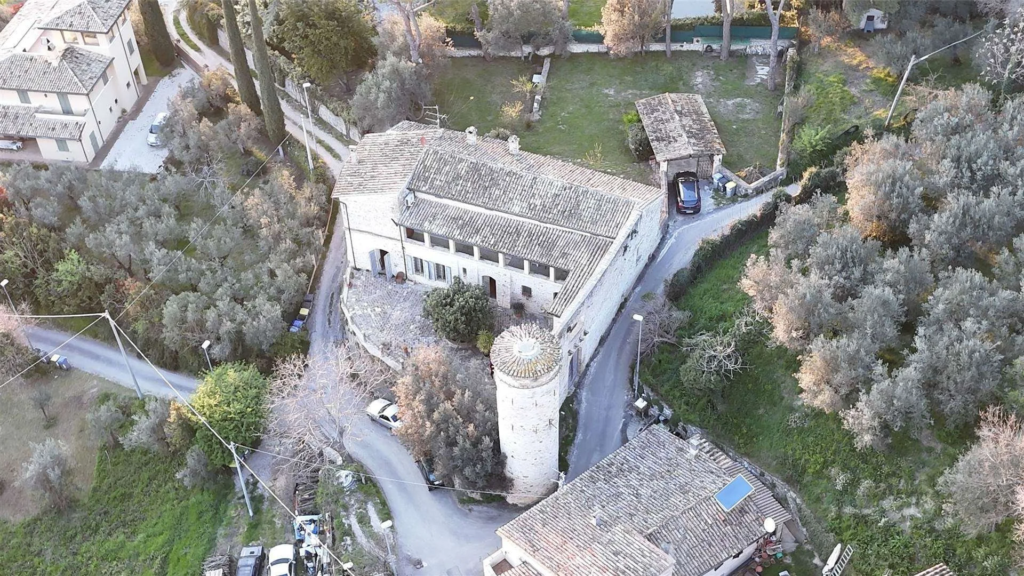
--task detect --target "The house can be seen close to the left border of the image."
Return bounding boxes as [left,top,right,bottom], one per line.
[0,0,142,161]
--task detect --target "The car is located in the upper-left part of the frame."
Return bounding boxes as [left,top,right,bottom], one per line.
[142,110,171,144]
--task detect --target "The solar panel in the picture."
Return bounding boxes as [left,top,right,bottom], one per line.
[714,476,754,517]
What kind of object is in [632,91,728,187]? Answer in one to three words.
building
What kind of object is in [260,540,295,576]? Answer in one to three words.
car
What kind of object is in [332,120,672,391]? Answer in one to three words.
house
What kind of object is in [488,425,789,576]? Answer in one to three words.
house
